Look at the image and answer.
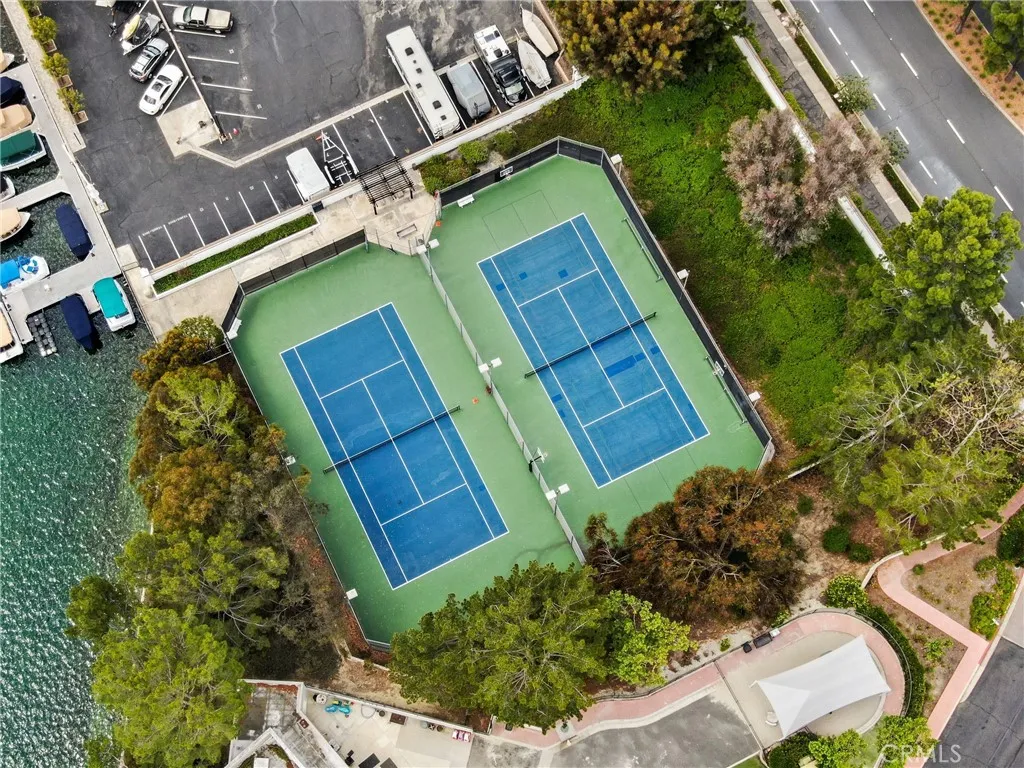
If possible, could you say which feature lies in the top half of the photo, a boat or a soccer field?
boat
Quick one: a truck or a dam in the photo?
truck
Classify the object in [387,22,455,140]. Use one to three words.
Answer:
camper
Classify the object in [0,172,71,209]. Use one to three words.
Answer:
pier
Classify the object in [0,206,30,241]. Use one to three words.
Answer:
boat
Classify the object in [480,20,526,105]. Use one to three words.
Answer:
truck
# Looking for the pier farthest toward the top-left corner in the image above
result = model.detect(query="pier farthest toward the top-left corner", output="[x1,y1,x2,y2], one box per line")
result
[0,61,28,85]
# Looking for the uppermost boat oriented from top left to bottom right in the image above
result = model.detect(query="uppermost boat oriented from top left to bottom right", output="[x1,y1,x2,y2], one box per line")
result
[515,0,558,58]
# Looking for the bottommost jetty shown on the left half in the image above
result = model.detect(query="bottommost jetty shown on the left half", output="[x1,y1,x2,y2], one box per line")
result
[13,259,122,344]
